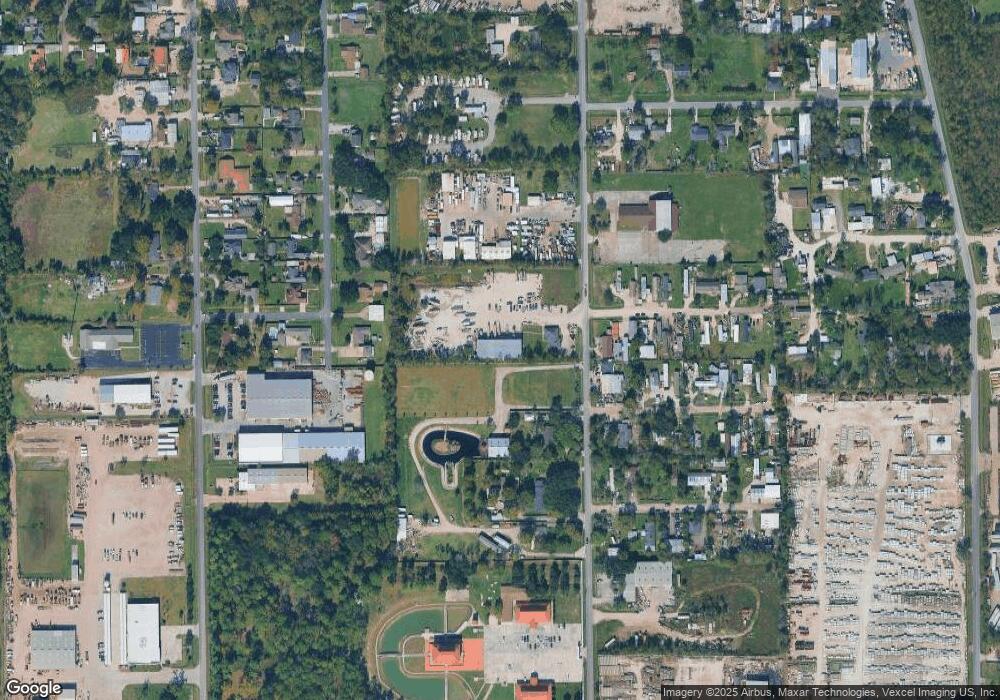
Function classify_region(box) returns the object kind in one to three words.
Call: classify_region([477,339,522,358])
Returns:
building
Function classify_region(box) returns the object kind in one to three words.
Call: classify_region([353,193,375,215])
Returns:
house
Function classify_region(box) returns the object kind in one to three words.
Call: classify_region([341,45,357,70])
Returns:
house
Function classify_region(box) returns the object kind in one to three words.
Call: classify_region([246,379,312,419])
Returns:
building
